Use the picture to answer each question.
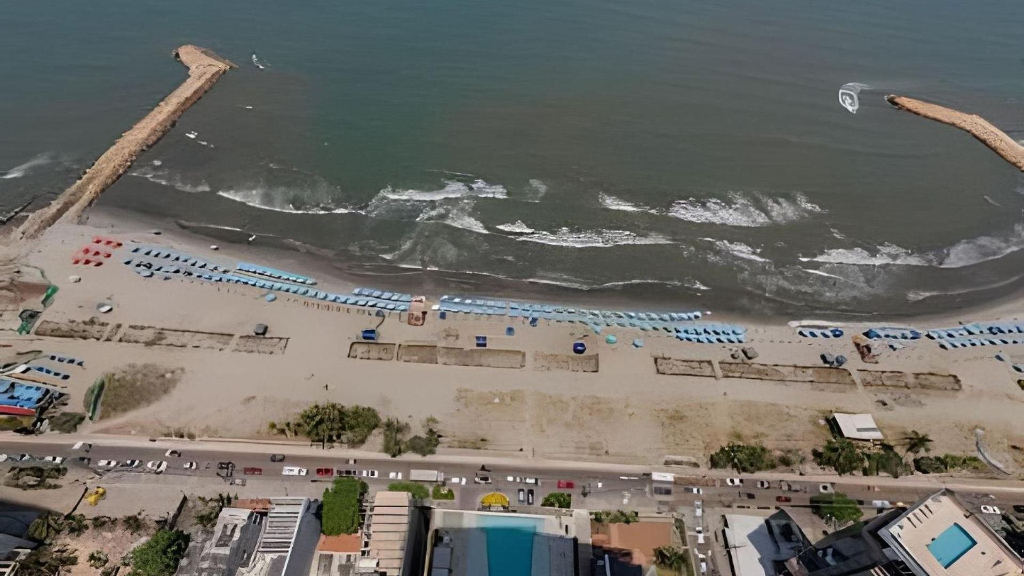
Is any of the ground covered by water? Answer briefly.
Yes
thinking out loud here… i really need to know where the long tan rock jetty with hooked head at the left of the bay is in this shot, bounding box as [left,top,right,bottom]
[21,48,231,240]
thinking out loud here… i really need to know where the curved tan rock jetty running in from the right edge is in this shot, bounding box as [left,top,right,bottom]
[892,98,1024,172]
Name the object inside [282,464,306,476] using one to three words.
vehicle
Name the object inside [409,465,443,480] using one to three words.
vehicle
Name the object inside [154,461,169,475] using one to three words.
car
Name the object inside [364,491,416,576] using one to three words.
building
